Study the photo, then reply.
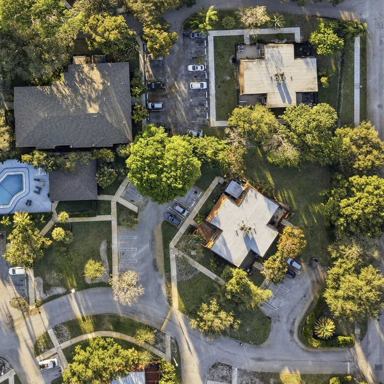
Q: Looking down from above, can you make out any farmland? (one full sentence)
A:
No, no farmland is visible.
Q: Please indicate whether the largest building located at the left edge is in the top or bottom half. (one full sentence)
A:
It is in the top half that the largest building located at the left edge appears.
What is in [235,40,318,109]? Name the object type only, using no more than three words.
building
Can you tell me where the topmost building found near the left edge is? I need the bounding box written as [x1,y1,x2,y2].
[15,64,132,148]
